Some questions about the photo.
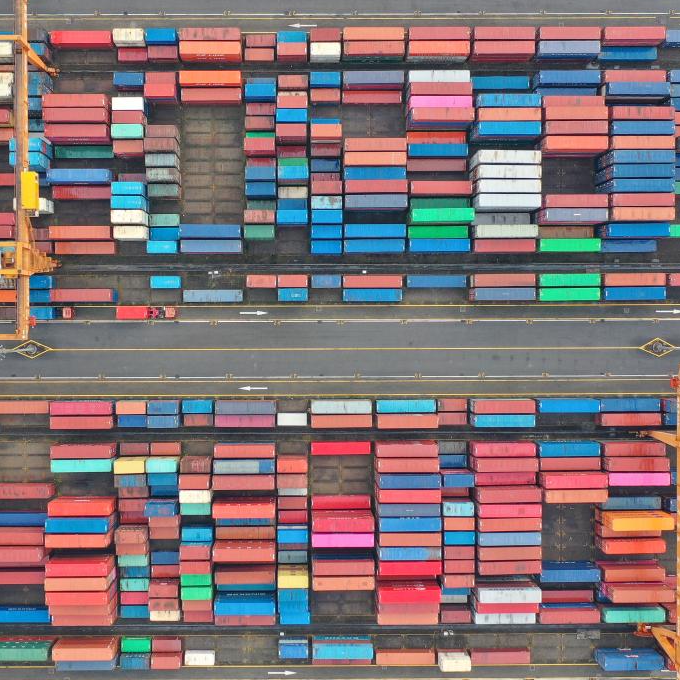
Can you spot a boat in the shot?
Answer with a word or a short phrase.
No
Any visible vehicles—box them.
[56,307,79,321]
[149,307,179,321]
